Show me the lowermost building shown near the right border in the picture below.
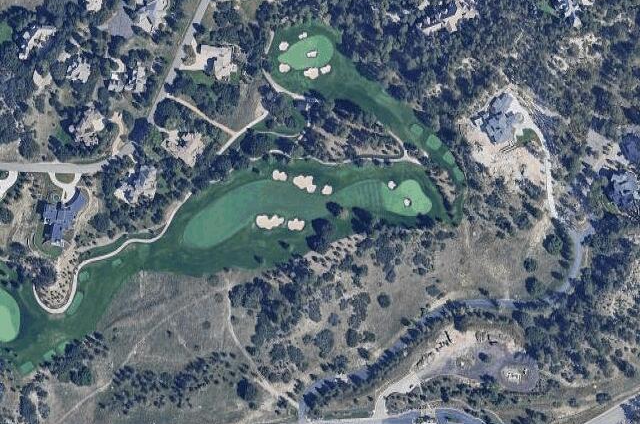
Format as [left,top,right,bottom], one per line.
[608,171,640,205]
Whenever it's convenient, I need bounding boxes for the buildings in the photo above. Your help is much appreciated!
[21,23,57,59]
[41,191,91,240]
[136,0,172,34]
[128,63,148,92]
[108,73,123,93]
[485,90,521,147]
[72,105,106,145]
[608,171,640,205]
[122,164,159,203]
[161,128,208,169]
[66,59,93,86]
[204,41,237,78]
[86,0,103,12]
[421,6,463,35]
[558,0,593,20]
